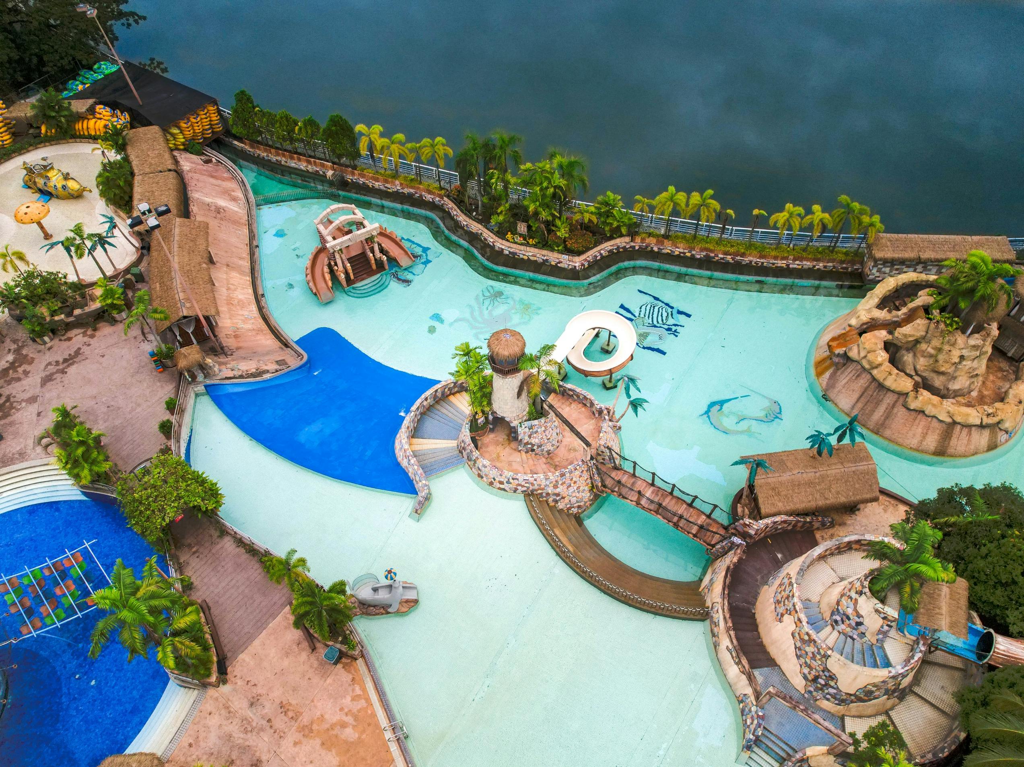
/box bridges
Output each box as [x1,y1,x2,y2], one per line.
[594,447,737,548]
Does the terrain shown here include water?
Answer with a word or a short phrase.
Yes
